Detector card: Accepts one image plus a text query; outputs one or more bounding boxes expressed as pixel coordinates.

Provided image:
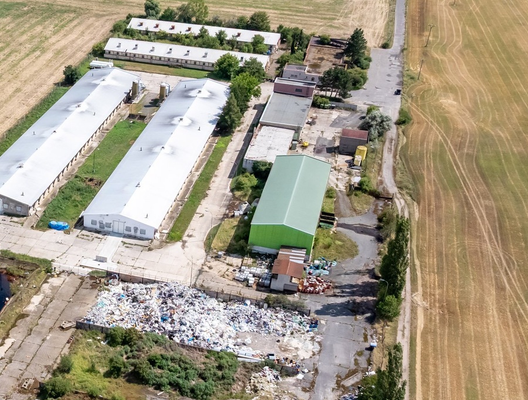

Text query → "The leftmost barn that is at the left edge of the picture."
[0,68,141,215]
